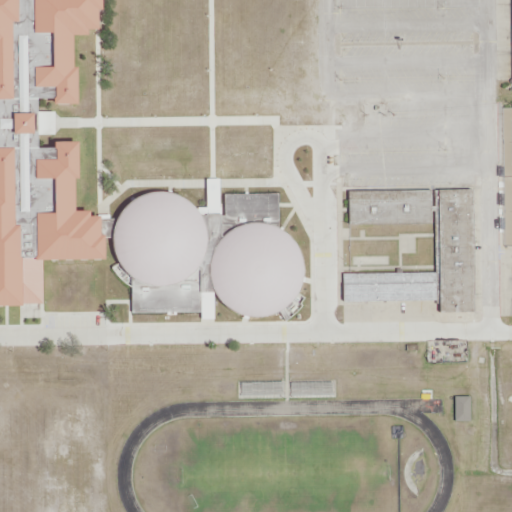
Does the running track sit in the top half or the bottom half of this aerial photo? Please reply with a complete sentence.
You can find the running track in the bottom half.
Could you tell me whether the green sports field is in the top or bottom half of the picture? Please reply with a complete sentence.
You can find the green sports field in the bottom half.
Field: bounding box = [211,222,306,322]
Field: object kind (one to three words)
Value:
building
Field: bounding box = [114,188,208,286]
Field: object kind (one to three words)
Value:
building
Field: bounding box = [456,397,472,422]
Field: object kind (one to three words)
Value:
shed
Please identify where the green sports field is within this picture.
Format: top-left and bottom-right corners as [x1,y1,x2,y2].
[181,425,388,512]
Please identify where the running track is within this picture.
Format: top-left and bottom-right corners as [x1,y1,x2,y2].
[118,400,453,512]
